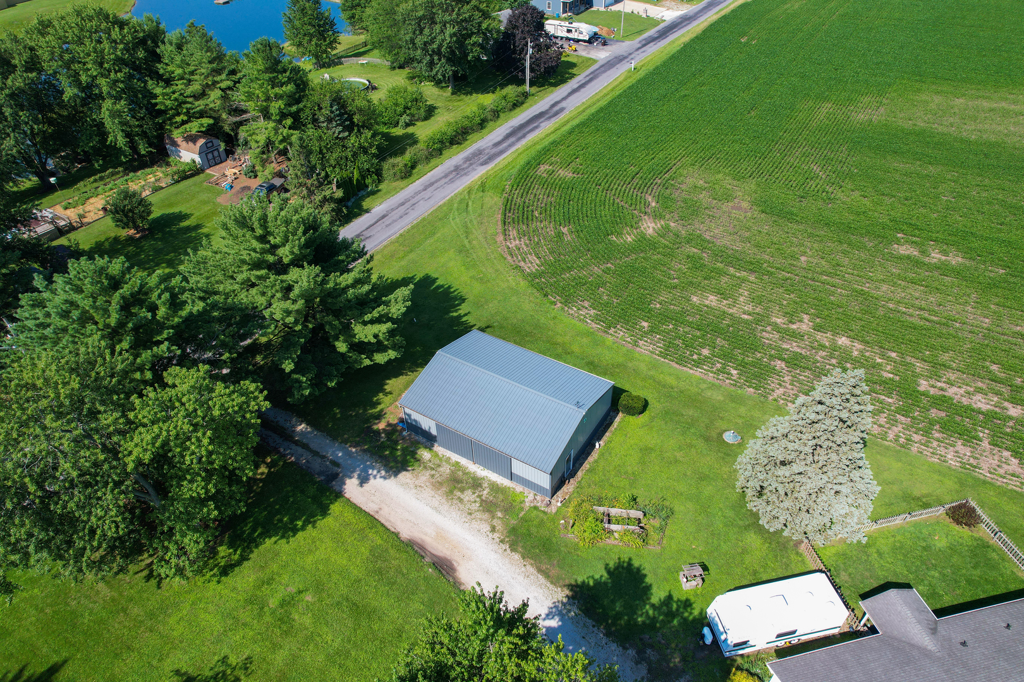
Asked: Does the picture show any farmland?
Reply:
Yes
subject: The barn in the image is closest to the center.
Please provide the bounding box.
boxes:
[400,328,616,500]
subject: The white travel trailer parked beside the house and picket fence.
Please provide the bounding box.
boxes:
[695,570,850,655]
